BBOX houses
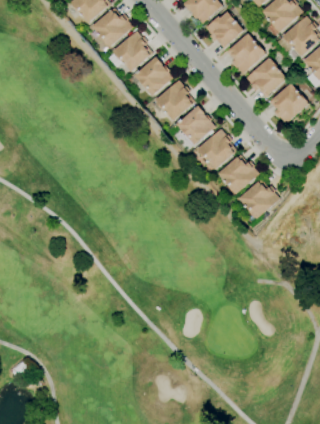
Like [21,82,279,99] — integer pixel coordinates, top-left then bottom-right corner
[226,32,268,70]
[304,46,320,78]
[188,0,224,22]
[269,82,310,121]
[155,81,196,120]
[205,8,246,46]
[135,57,172,96]
[114,31,155,70]
[246,58,288,96]
[92,8,133,46]
[240,180,280,218]
[283,17,320,56]
[177,106,214,144]
[196,130,238,168]
[70,0,112,22]
[264,0,304,32]
[220,157,260,195]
